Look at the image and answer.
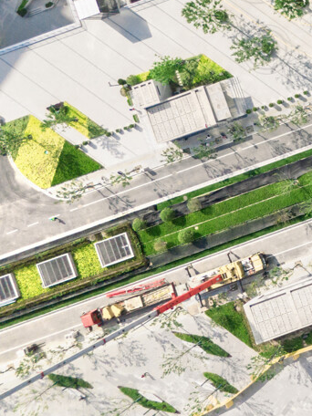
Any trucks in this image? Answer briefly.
Yes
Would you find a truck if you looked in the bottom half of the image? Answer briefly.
Yes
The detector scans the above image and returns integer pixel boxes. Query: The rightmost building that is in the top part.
[132,58,255,142]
